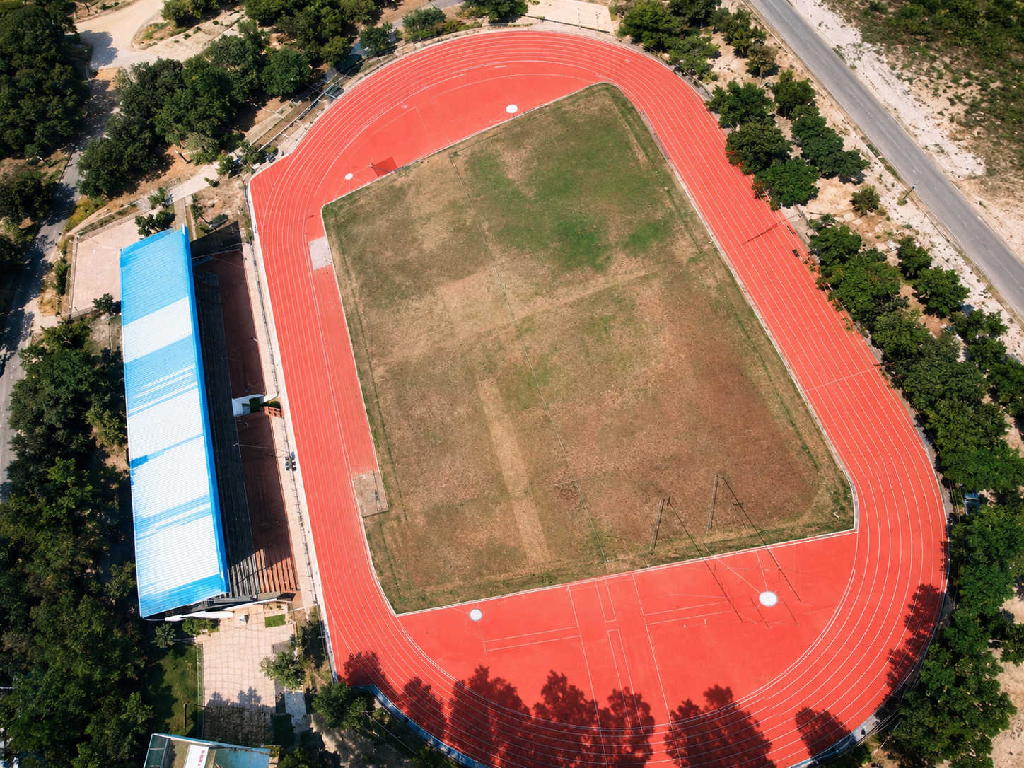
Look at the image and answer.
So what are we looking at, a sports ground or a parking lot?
sports ground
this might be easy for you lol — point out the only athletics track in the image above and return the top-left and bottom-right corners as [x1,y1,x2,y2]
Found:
[250,30,949,768]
